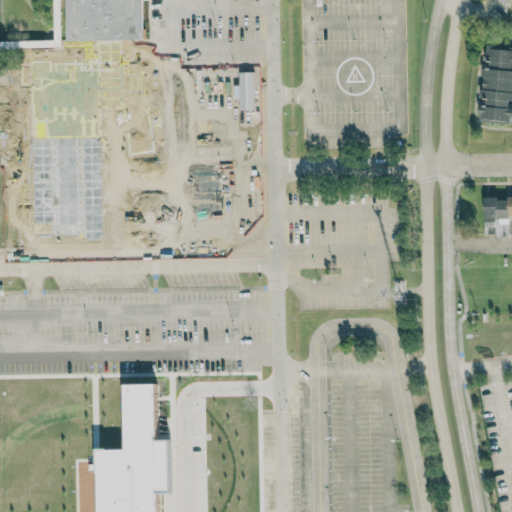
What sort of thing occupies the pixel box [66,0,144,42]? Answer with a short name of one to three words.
building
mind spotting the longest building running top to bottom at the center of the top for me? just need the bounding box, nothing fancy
[240,72,256,110]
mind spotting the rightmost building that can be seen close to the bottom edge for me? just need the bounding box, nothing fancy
[94,386,160,512]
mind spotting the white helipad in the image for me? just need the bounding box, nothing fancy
[337,58,374,96]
